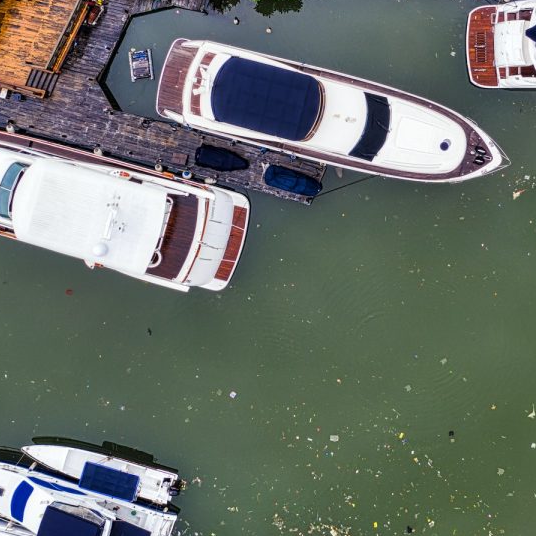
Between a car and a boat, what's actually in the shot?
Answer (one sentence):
It is a boat that can be seen here.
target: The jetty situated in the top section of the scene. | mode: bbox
[0,0,327,204]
